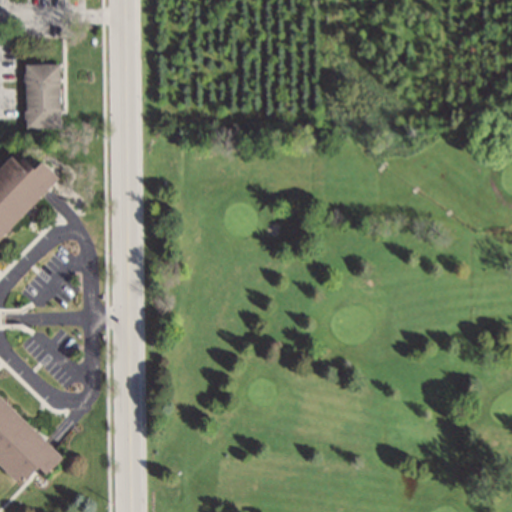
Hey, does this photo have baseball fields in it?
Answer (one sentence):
No, the picture doesn't show any baseball field.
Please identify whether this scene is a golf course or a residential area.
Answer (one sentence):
This image shows a golf course.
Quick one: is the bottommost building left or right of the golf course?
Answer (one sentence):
The bottommost building can be seen on the left of the golf course.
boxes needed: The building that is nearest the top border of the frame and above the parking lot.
[24,64,64,130]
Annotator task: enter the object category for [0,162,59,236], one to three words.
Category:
building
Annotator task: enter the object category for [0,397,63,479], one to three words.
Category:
building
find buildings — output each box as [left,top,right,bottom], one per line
[0,162,59,236]
[0,397,63,479]
[24,64,64,130]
